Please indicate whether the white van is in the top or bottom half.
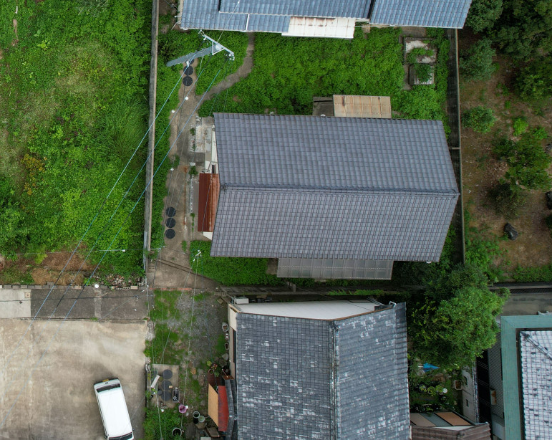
bottom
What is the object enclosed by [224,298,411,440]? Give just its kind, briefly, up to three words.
house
